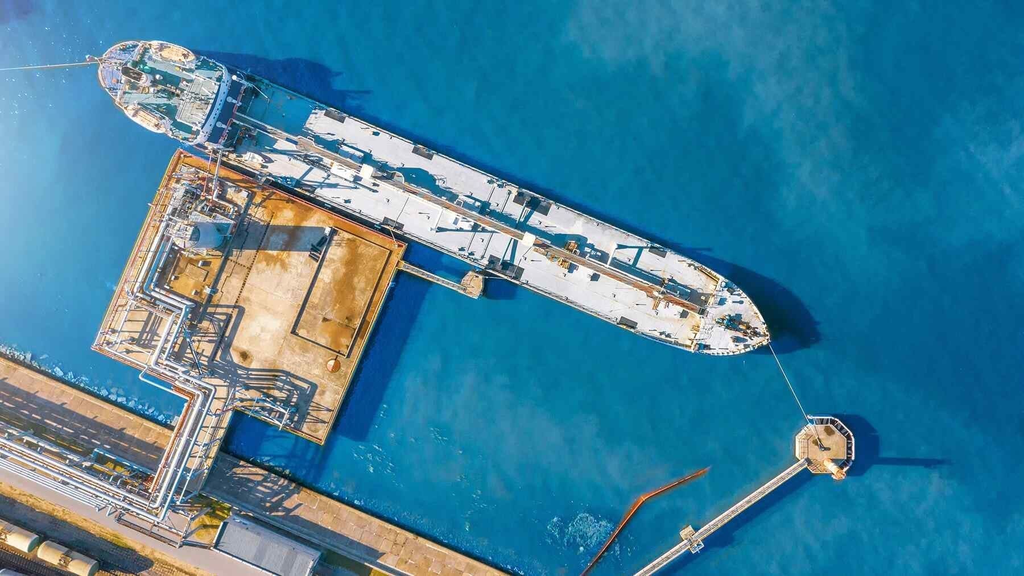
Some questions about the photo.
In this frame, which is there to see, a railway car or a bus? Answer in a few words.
railway car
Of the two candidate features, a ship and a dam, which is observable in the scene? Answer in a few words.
ship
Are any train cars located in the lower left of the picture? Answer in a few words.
Yes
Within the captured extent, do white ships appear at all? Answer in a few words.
Yes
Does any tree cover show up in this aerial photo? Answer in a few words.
No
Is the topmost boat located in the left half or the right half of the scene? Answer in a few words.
left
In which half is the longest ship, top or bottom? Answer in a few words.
top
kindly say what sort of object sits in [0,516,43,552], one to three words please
rail car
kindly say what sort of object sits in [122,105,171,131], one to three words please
boat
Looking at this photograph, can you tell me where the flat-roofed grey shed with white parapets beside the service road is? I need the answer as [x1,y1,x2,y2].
[216,508,326,576]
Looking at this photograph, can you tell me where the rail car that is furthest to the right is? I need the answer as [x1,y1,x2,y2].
[32,536,107,576]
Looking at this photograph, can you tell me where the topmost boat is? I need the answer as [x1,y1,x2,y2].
[148,39,197,65]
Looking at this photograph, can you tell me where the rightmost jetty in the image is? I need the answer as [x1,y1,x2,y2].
[678,524,704,560]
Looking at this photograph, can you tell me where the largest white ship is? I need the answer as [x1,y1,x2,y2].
[80,38,772,353]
